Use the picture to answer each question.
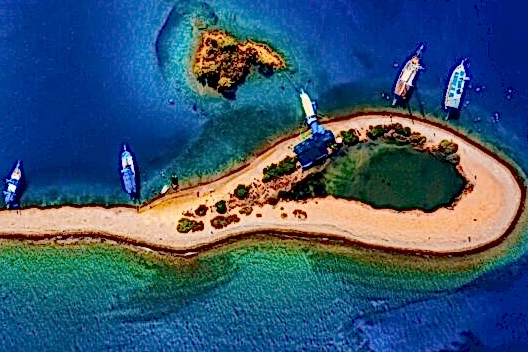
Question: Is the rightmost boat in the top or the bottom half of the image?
top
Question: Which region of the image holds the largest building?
center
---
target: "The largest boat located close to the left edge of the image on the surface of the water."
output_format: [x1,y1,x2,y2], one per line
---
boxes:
[6,158,21,209]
